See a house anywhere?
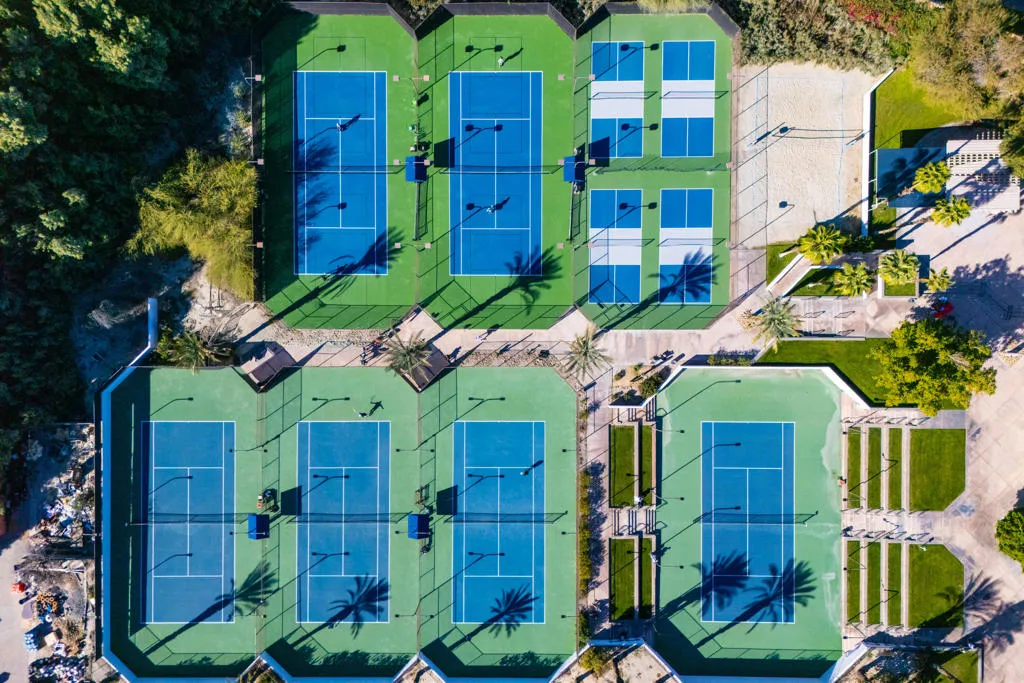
No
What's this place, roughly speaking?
sports ground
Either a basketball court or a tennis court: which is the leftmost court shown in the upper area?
tennis court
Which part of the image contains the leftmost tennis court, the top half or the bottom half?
bottom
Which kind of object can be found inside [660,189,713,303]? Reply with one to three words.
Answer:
sports court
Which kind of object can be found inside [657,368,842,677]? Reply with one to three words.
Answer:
tennis court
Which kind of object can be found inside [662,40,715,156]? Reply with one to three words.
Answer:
sports court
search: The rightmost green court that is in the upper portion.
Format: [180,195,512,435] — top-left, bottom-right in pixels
[417,15,575,328]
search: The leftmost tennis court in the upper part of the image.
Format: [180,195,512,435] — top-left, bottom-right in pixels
[264,15,418,328]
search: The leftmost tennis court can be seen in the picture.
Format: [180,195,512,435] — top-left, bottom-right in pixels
[110,367,266,677]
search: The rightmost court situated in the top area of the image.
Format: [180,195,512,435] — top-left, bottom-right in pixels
[740,57,892,249]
